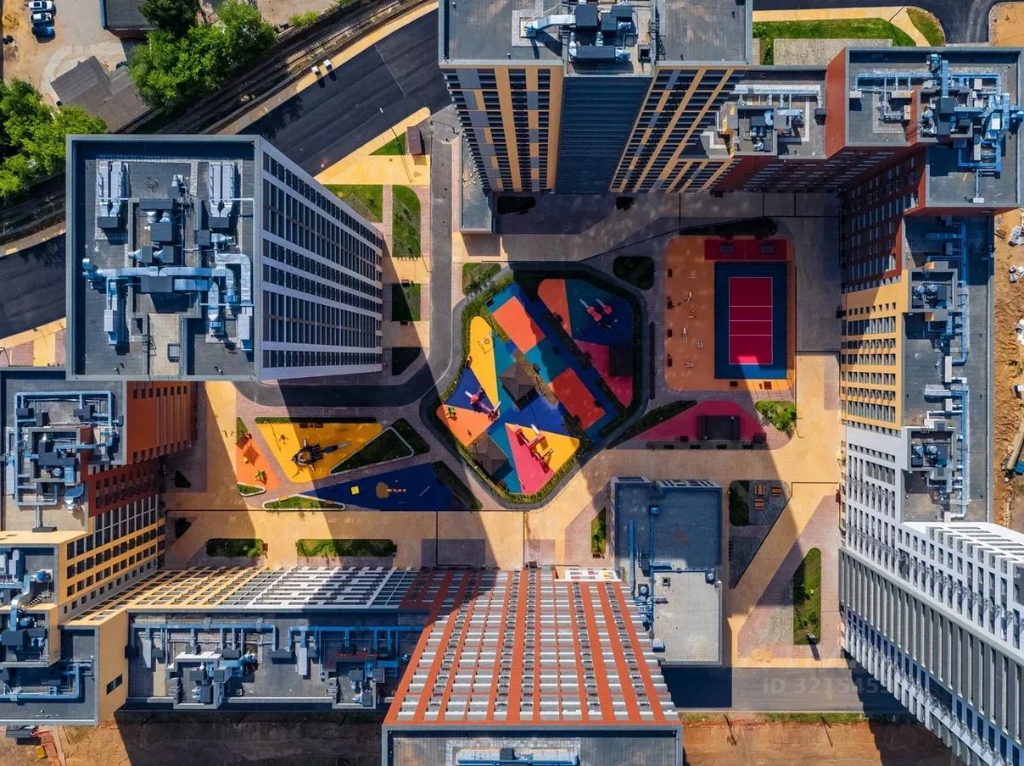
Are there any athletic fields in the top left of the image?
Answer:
No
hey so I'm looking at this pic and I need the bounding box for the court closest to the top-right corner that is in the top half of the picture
[705,239,786,259]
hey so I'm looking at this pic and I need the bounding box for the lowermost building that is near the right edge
[835,494,1024,766]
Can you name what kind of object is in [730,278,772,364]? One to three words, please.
sports court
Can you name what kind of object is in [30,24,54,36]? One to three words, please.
vehicle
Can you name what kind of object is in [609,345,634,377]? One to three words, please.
gazebo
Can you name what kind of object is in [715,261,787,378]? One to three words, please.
sports court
